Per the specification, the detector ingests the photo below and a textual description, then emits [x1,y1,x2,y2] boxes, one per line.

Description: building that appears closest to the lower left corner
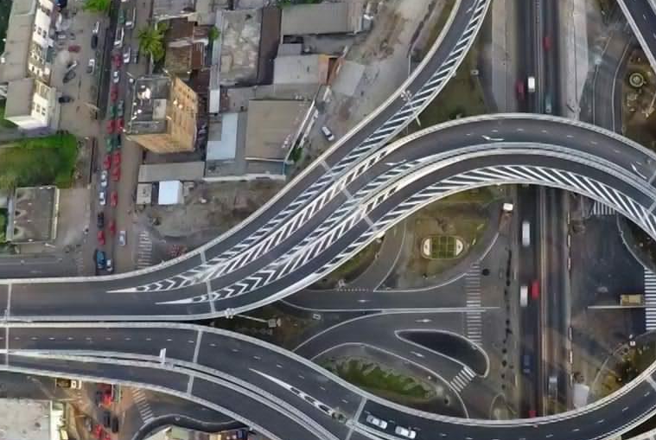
[0,399,66,440]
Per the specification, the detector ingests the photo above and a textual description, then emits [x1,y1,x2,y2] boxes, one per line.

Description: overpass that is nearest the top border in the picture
[0,0,656,321]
